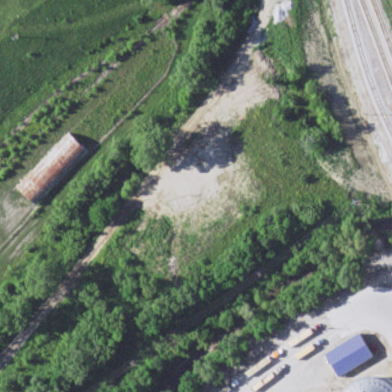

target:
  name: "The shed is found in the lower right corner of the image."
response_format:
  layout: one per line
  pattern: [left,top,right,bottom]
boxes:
[326,334,373,377]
